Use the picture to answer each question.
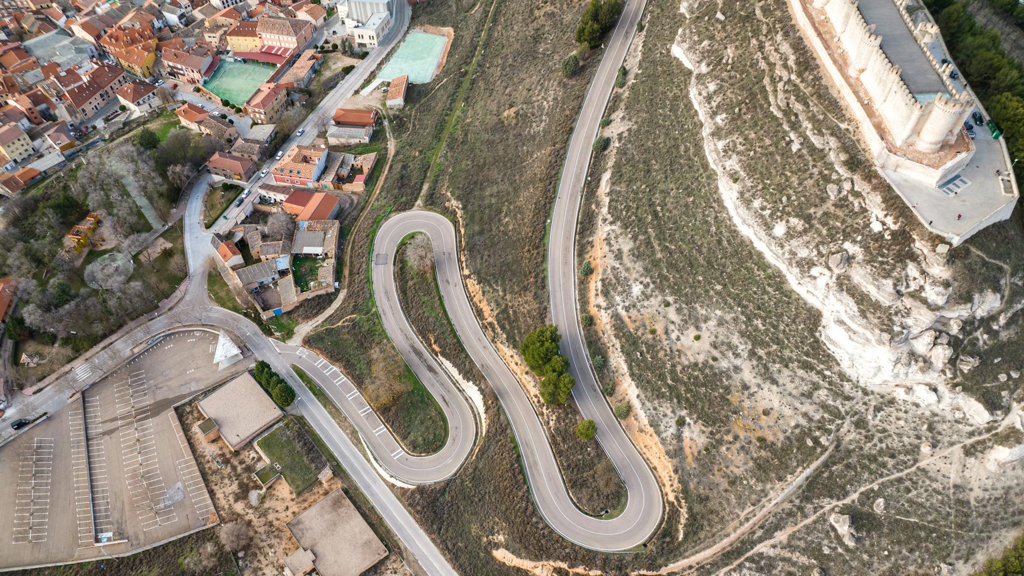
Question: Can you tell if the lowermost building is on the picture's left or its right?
left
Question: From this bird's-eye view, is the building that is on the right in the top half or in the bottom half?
top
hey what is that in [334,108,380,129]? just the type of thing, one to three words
barn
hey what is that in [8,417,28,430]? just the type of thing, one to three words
vehicle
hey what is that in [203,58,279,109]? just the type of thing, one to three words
sports court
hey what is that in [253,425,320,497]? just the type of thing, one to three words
building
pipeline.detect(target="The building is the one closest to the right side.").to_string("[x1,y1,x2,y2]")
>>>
[815,0,981,154]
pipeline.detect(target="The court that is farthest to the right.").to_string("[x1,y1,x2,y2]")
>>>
[376,31,448,85]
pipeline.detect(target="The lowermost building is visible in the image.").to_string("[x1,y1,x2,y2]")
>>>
[283,487,389,576]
